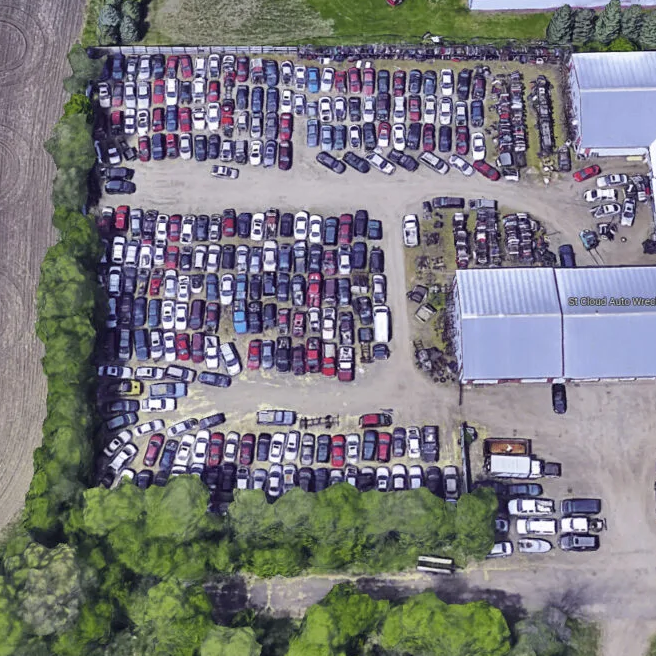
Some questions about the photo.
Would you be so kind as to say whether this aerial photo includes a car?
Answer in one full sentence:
Yes, looking at the shot, I can spot a car.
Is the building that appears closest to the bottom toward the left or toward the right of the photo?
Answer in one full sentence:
The building that appears closest to the bottom sits on the right side.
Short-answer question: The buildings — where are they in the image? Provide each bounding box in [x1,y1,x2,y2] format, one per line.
[468,0,642,18]
[456,264,656,383]
[570,50,656,158]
